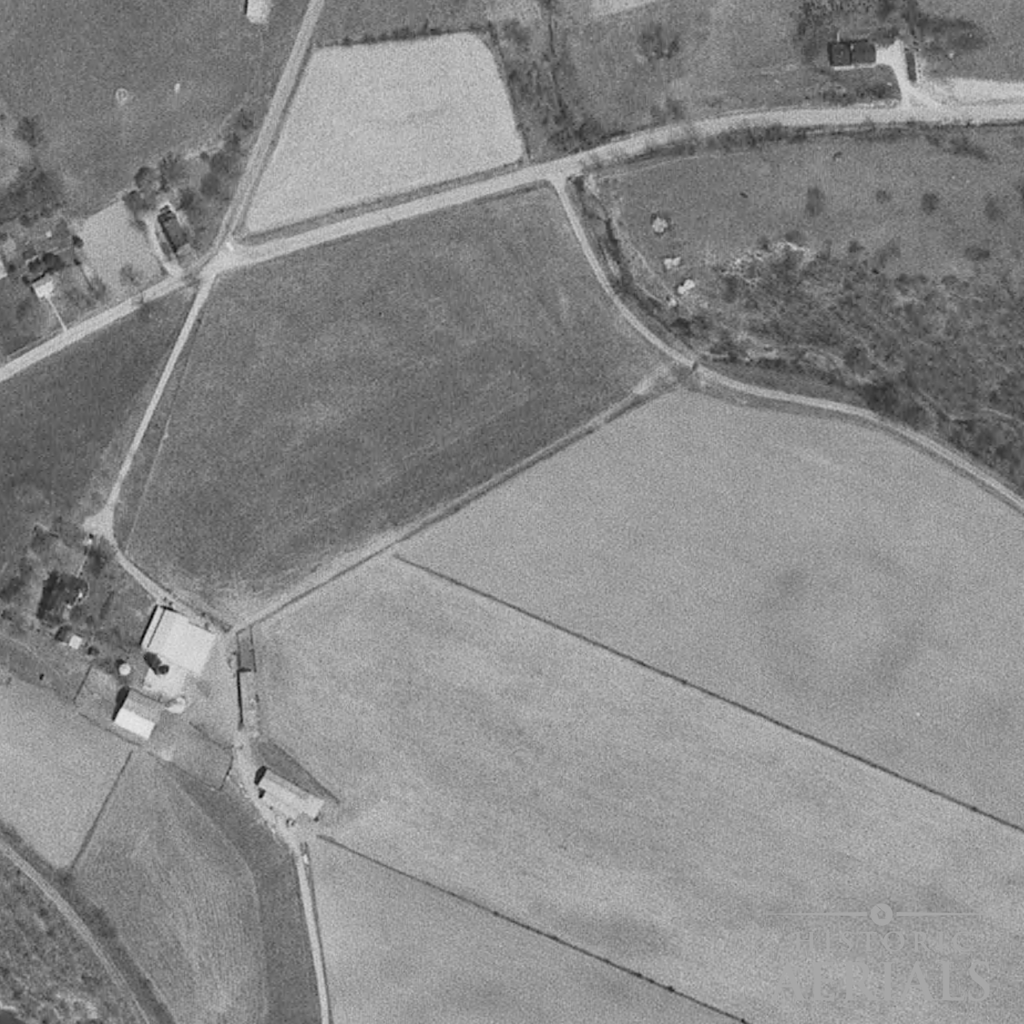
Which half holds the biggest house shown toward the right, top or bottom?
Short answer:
top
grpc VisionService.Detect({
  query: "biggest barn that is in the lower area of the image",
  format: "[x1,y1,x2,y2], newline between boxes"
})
[141,606,215,675]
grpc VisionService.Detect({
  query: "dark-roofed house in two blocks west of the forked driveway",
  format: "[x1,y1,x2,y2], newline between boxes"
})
[829,42,876,67]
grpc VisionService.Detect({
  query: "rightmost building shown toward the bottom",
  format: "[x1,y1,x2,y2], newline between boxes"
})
[258,768,324,817]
